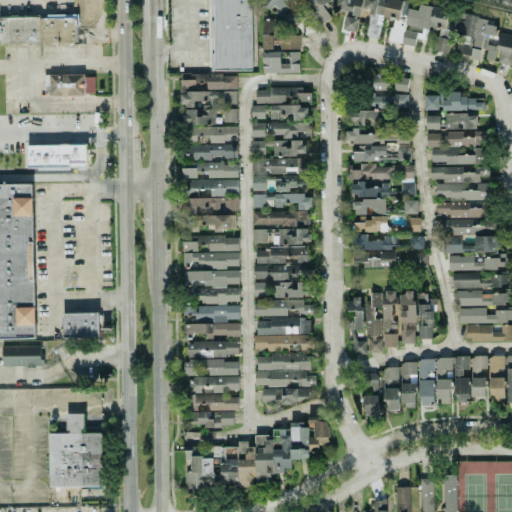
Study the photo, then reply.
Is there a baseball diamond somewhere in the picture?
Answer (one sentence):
No, I find no baseball diamond anywhere in the image.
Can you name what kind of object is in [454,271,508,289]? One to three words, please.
house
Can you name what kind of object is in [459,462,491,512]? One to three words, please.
tennis court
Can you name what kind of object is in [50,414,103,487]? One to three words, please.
building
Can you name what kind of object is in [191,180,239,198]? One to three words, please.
house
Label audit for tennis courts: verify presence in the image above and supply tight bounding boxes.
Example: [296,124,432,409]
[459,462,491,512]
[491,462,512,512]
